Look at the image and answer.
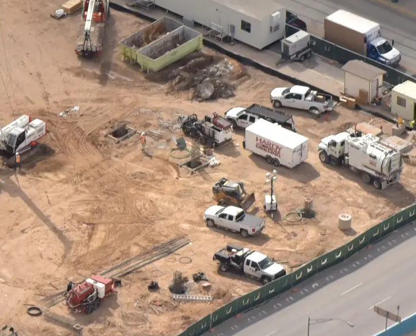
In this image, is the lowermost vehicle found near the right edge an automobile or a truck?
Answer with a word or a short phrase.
truck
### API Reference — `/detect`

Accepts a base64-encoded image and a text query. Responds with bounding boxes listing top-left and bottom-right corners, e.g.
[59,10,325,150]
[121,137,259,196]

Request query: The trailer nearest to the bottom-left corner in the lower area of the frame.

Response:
[67,269,120,307]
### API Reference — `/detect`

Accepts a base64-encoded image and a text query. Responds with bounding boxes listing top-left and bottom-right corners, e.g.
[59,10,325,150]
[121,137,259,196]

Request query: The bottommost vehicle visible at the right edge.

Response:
[314,132,408,190]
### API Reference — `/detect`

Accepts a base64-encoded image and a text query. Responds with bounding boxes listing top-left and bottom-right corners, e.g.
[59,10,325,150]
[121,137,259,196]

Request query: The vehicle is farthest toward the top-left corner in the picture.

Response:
[76,0,108,48]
